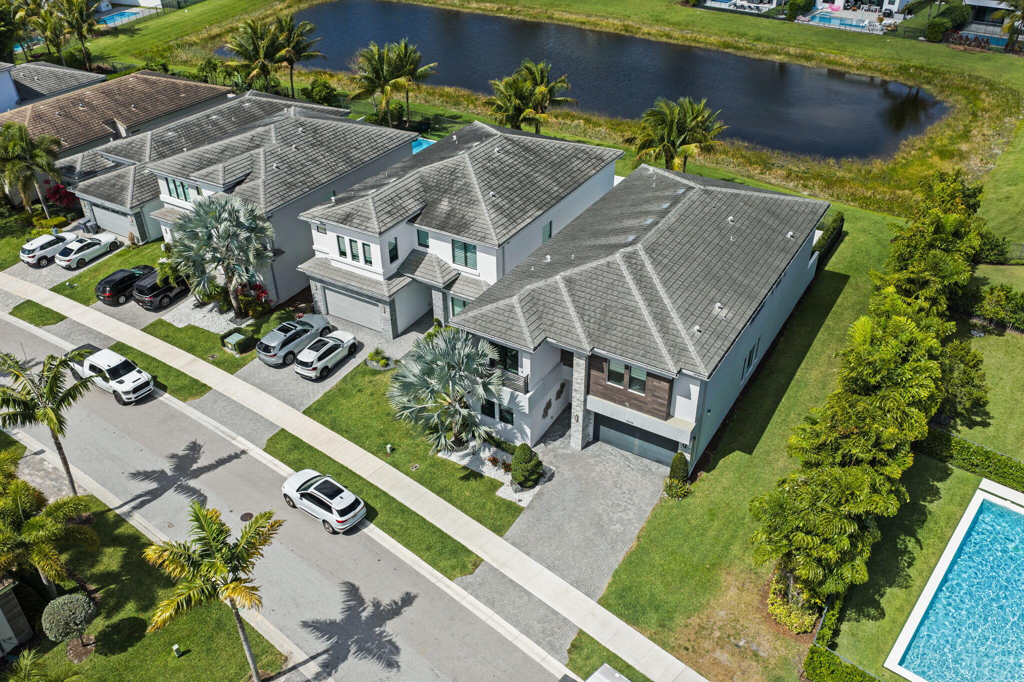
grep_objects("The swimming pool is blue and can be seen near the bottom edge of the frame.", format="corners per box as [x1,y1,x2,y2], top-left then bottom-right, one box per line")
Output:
[884,488,1024,682]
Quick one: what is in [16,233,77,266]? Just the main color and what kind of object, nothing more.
white car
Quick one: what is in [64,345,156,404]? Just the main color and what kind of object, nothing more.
white truck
